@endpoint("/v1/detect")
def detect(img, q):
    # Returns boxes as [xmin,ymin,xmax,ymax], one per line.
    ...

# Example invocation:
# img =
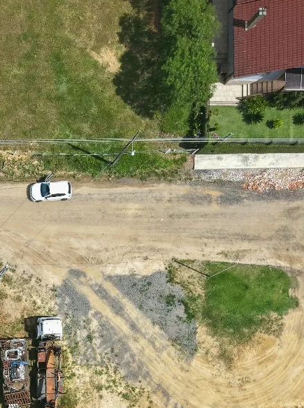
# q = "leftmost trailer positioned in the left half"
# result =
[3,336,34,406]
